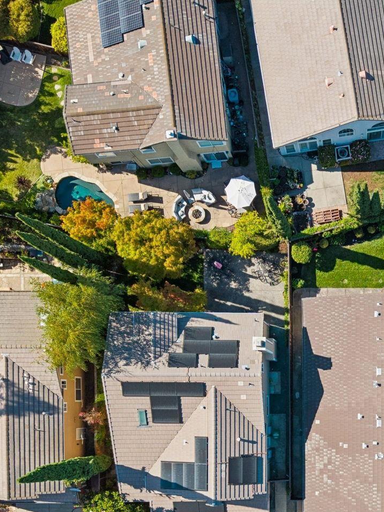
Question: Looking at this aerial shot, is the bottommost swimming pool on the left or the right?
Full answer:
The bottommost swimming pool sits on the left side.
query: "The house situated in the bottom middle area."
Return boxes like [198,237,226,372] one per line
[101,312,286,512]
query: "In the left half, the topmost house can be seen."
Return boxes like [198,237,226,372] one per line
[63,0,234,176]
